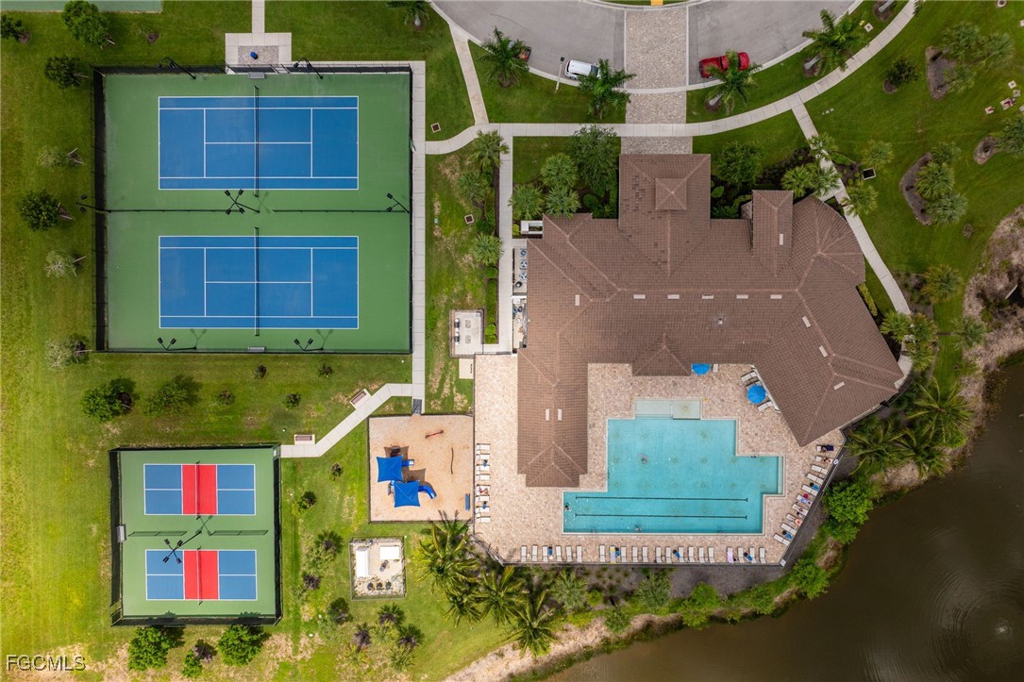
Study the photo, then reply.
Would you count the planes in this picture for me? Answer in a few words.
0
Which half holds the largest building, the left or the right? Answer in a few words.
right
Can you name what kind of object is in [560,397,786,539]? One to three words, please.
swimming pool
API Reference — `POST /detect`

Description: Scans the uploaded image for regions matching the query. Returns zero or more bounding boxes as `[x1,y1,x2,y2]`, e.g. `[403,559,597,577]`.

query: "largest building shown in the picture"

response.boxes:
[517,152,905,488]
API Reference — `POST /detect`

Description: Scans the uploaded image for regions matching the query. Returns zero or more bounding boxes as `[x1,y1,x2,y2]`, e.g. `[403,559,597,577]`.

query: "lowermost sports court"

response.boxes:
[122,532,275,617]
